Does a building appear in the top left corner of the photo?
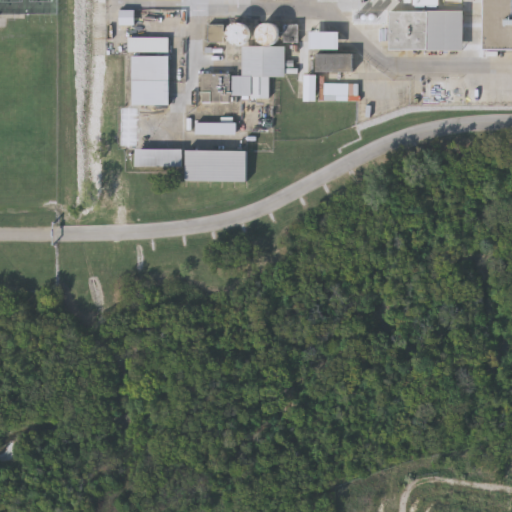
Yes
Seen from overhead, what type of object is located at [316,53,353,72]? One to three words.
shed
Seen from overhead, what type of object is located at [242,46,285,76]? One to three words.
building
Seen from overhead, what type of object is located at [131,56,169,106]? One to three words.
building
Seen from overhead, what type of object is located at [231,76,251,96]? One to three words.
shed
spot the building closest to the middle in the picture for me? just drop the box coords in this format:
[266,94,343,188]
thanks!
[183,150,246,182]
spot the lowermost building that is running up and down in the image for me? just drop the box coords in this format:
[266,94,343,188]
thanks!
[120,108,138,148]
